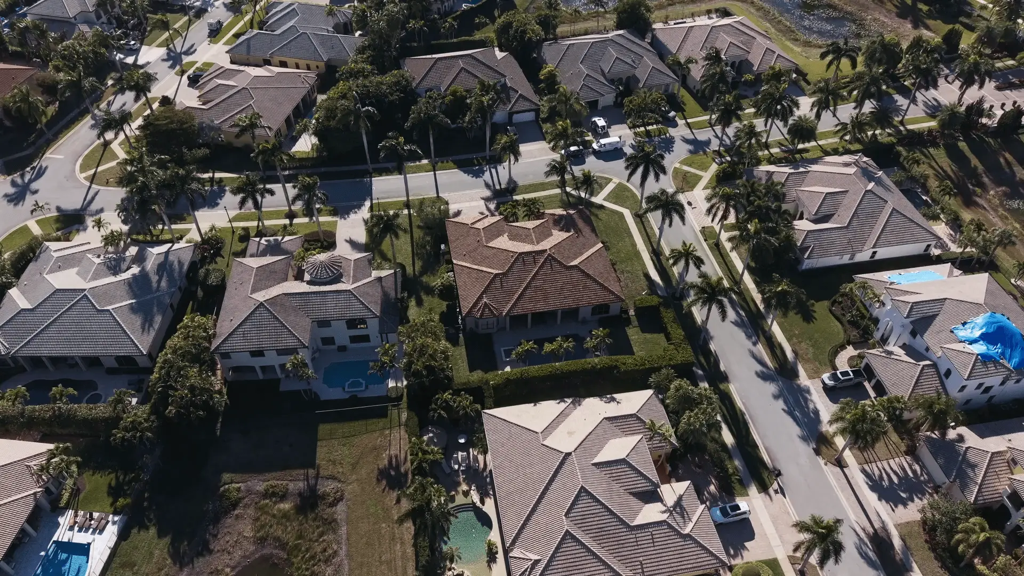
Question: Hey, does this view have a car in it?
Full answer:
Yes, this view includes a car.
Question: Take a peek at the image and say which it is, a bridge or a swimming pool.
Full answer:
It is a swimming pool that can be seen here.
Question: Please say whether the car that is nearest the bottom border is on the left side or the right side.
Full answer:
You can find the car that is nearest the bottom border on the right side of the picture.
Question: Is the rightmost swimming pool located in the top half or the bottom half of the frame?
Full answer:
Seen from above, the rightmost swimming pool lies in the top half of the view.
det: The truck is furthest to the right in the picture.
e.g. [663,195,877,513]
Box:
[821,367,870,389]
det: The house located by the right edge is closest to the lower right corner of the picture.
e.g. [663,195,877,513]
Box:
[915,416,1024,522]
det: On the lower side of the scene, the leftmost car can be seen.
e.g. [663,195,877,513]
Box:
[709,500,754,528]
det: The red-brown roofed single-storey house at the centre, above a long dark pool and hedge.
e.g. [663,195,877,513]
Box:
[445,206,625,339]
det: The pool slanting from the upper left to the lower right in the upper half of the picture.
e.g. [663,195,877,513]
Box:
[899,187,931,210]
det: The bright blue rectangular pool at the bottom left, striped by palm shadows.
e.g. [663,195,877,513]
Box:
[29,538,93,576]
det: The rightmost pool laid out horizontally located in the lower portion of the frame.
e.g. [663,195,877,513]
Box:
[515,332,592,367]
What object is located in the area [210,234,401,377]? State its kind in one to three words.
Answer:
house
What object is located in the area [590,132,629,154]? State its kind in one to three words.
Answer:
vehicle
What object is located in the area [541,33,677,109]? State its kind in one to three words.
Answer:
house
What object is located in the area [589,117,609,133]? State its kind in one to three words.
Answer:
car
